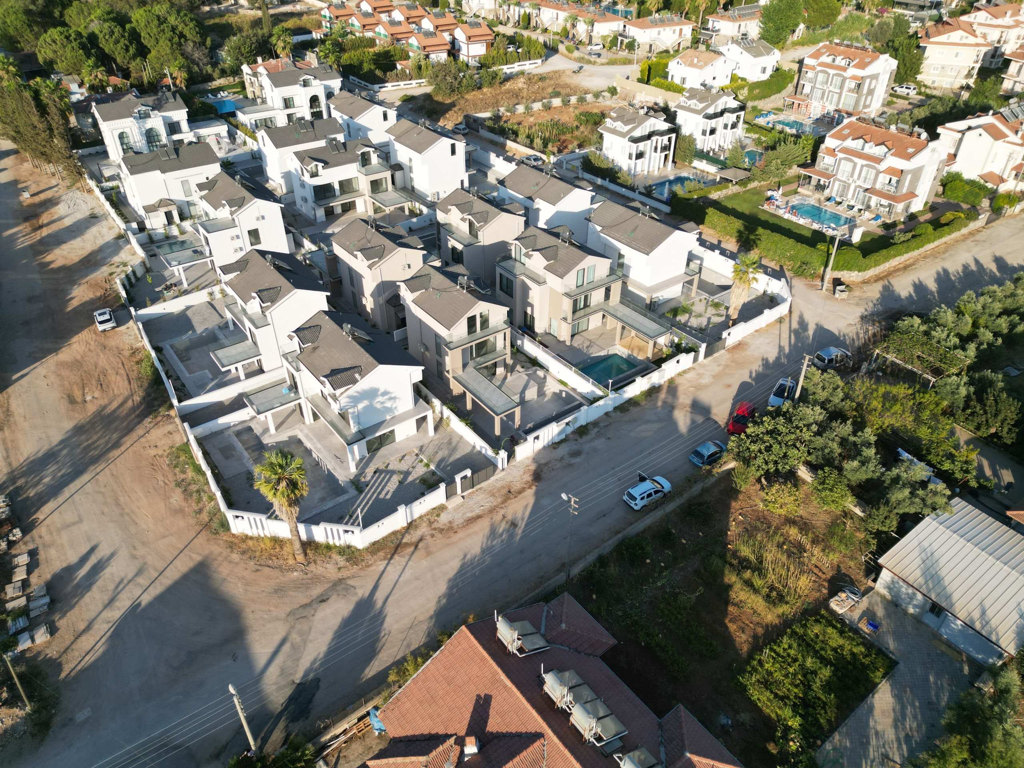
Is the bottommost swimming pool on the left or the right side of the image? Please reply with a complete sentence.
The bottommost swimming pool sits on the left side.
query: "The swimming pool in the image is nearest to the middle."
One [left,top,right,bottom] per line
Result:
[577,351,641,386]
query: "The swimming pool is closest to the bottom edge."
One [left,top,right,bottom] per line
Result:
[225,424,357,515]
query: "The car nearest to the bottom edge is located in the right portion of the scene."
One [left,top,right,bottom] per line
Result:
[623,473,672,510]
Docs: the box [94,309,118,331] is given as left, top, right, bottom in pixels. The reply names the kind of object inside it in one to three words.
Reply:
car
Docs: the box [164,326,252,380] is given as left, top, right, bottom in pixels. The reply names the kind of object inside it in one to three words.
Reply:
swimming pool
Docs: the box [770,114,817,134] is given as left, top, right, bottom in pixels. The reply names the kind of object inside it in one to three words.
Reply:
swimming pool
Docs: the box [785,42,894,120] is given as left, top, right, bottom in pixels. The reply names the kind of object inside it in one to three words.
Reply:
house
